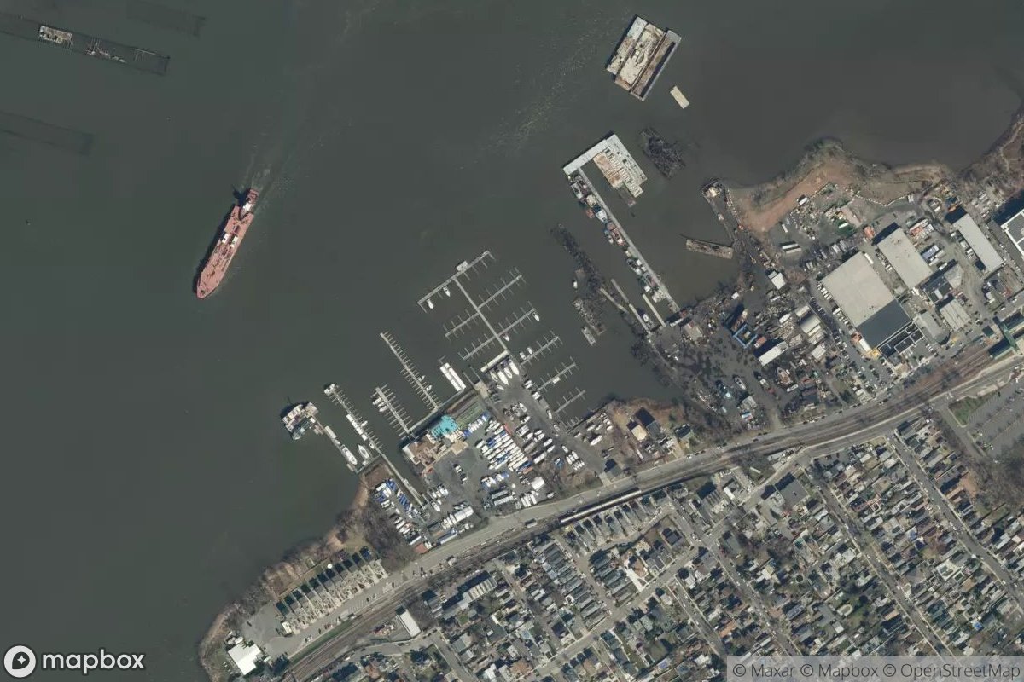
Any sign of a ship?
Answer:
Yes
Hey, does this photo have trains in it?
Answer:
Yes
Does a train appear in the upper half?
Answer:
No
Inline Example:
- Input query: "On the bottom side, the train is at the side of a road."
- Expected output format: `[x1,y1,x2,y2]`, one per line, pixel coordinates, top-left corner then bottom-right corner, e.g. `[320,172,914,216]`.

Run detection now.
[561,489,640,522]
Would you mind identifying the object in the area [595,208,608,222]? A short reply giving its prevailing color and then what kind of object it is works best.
white ship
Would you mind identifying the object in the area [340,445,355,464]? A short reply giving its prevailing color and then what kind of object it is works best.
white ship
